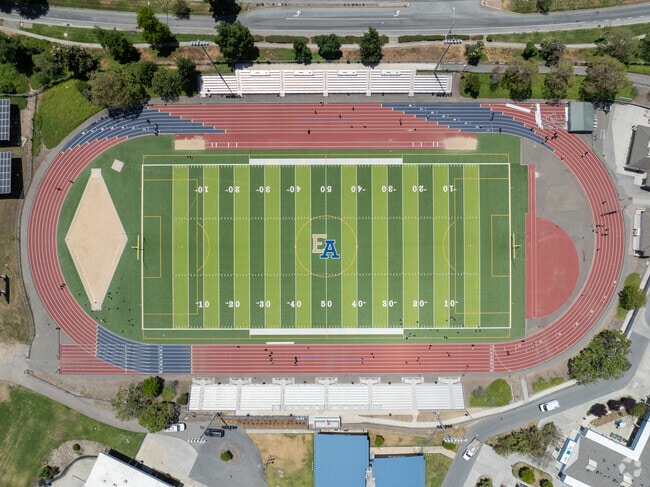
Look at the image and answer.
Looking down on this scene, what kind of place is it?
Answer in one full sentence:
What you see here is a sports ground.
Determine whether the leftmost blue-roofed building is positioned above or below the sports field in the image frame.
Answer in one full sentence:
The leftmost blue-roofed building appears below the sports field in the picture.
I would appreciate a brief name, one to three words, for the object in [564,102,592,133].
shed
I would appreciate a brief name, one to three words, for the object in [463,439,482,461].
vehicle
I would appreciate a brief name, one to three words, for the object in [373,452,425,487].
building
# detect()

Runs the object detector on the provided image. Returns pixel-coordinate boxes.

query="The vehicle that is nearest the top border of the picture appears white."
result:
[539,401,563,413]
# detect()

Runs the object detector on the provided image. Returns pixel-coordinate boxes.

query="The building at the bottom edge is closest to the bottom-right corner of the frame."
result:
[555,410,650,487]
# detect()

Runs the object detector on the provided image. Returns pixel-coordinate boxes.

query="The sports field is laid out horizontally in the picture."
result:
[58,133,527,344]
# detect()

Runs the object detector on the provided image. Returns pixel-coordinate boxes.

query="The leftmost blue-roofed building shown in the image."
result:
[314,431,368,487]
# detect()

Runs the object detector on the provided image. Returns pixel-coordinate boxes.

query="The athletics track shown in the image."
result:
[28,103,625,373]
